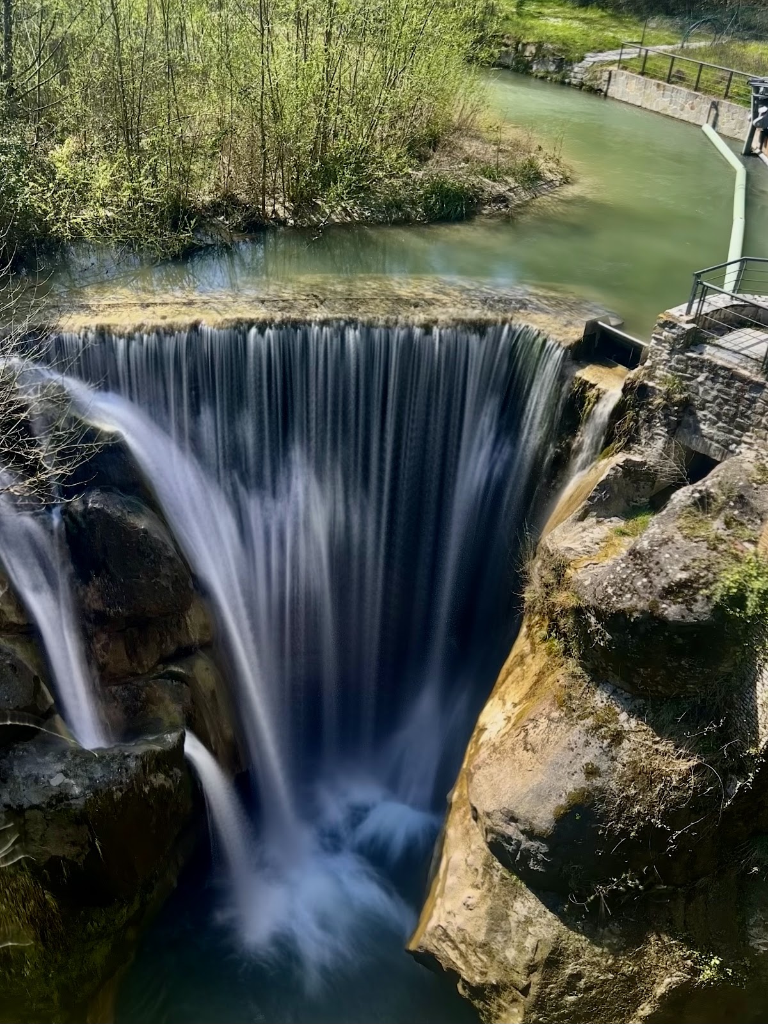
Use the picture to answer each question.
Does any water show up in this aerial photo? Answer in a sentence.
Yes, water can be seen from above here.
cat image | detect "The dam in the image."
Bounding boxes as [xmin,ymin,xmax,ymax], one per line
[0,278,610,684]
